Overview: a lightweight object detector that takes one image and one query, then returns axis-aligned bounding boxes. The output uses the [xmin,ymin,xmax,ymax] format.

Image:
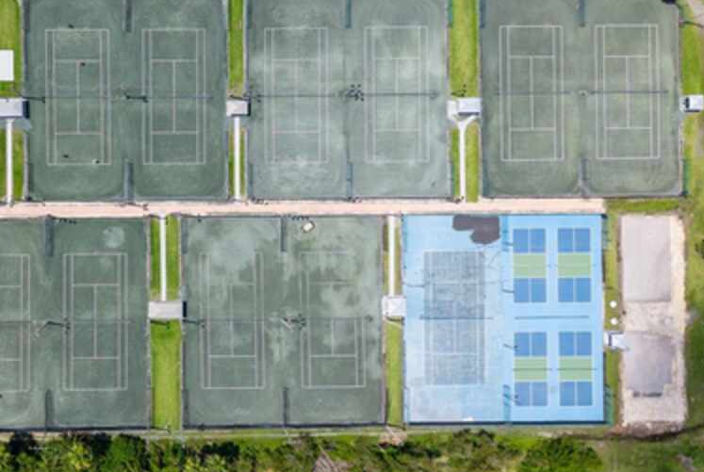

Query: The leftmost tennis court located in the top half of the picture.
[22,0,128,201]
